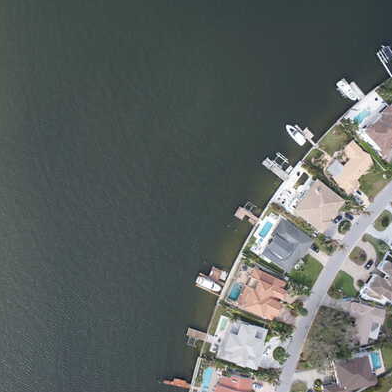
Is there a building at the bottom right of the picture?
Yes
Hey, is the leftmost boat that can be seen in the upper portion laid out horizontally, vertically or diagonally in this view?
diagonally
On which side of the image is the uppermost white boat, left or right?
right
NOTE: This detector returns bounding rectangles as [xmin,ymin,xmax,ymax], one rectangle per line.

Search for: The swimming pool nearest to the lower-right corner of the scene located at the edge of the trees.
[369,349,385,373]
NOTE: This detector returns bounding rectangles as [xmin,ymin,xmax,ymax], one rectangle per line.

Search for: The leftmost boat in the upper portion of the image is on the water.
[285,125,306,147]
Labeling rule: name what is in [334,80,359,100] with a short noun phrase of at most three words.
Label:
boat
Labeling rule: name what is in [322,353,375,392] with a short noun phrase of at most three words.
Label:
house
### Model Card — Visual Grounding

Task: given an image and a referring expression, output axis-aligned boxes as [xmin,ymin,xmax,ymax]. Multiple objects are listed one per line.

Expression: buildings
[360,105,392,159]
[322,353,375,392]
[241,266,289,319]
[293,181,345,232]
[362,254,392,301]
[211,371,253,392]
[257,218,314,271]
[218,322,265,368]
[324,140,372,195]
[348,300,386,345]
